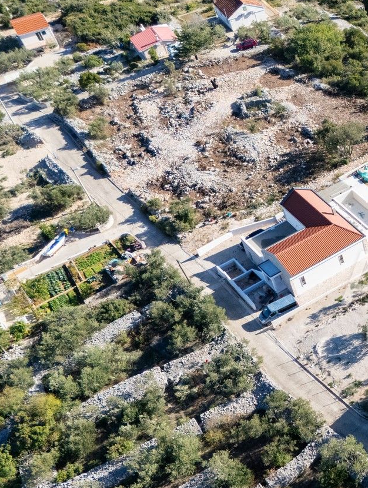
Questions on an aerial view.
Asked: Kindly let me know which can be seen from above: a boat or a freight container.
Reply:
boat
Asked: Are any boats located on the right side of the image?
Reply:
No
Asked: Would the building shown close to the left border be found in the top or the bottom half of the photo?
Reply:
top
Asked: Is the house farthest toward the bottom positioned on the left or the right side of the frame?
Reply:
right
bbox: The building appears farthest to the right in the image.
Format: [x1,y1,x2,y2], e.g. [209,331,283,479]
[254,187,368,296]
